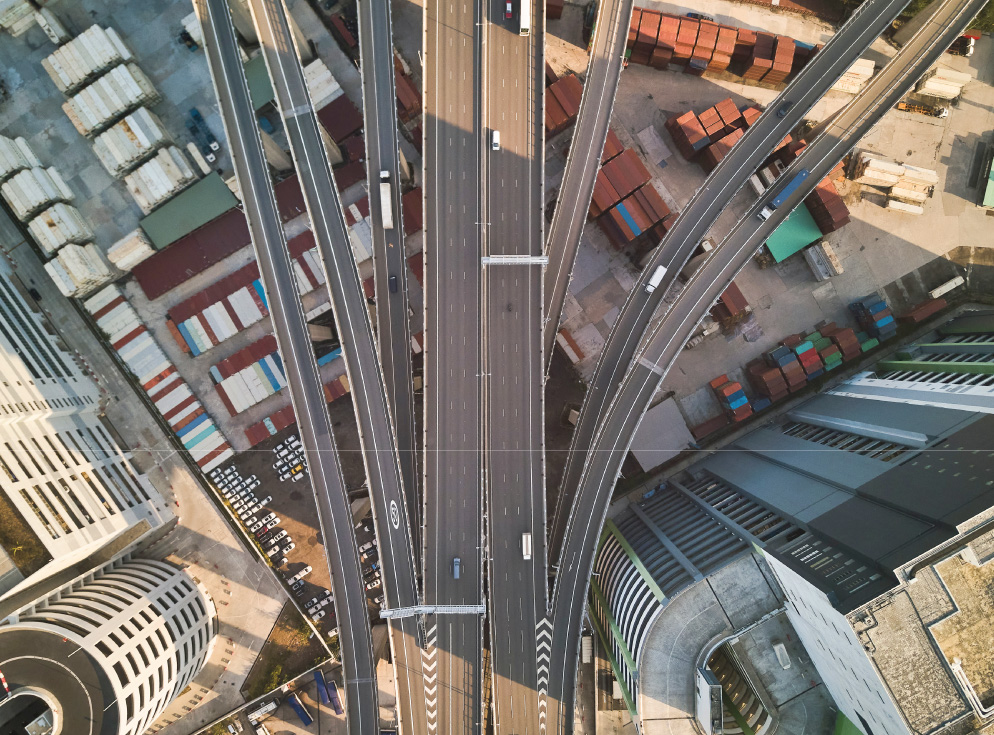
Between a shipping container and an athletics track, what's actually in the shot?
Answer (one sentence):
There is a shipping container in the scene.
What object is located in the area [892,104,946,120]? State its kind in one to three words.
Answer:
vehicle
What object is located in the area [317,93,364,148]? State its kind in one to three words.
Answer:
shed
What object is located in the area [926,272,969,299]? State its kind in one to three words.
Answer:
shipping container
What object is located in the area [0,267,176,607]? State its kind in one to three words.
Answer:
warehouse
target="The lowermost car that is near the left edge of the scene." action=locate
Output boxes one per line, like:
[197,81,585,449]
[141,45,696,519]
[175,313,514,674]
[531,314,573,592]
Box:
[26,285,41,302]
